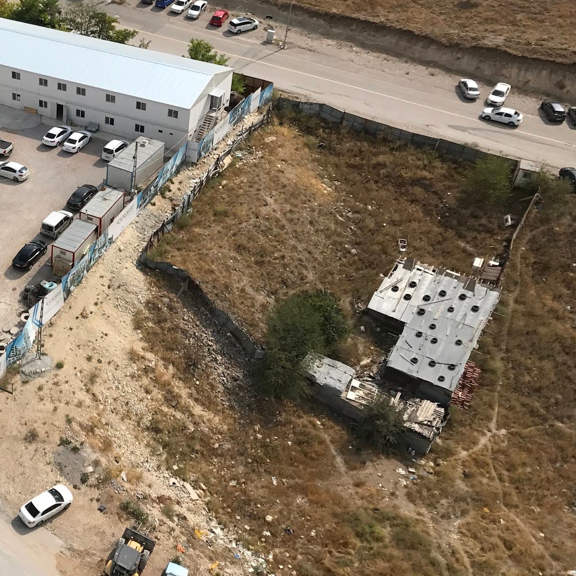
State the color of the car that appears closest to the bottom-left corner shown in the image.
white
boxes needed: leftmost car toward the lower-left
[19,485,73,527]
